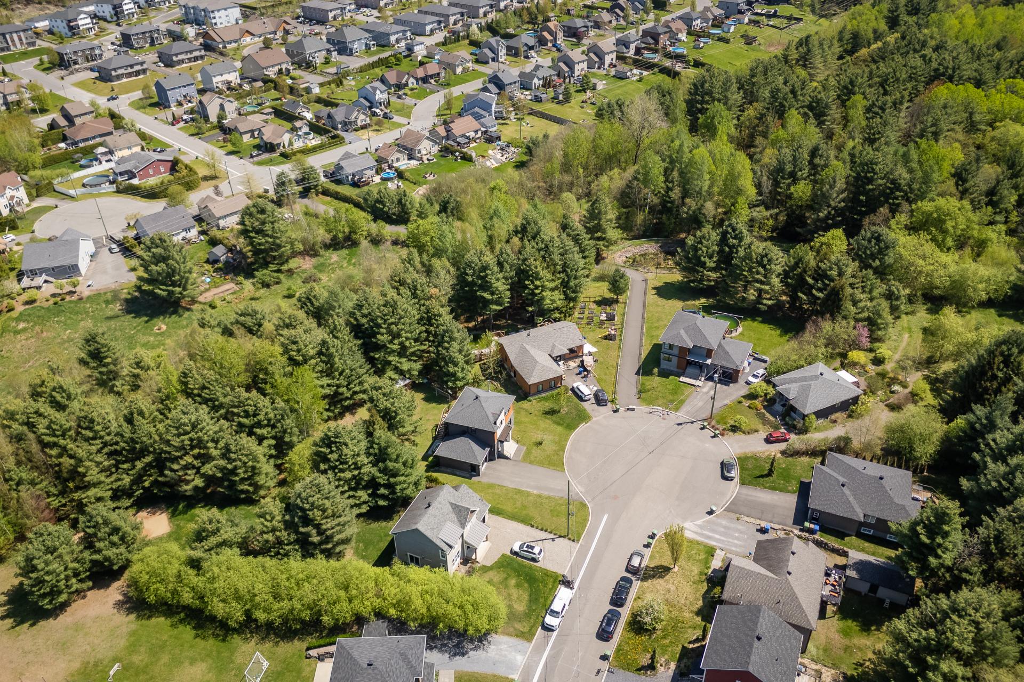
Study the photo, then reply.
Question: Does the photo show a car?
Yes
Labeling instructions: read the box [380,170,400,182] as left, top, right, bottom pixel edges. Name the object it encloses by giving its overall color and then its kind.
blue swimming pool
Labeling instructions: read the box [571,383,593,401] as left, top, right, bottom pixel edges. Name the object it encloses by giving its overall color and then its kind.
white car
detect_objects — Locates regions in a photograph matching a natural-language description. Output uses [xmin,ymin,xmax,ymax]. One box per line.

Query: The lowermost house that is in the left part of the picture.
[330,621,435,682]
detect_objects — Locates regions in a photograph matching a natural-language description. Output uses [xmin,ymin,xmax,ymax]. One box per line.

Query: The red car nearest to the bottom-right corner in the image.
[766,432,793,446]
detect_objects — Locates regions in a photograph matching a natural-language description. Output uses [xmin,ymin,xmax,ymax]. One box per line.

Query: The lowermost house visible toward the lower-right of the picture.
[698,605,818,682]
